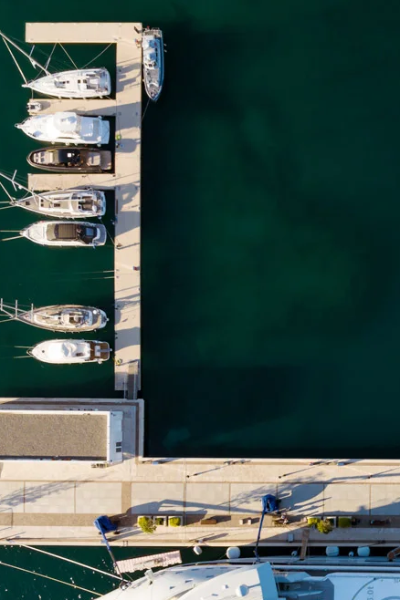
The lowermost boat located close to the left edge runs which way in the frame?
from left to right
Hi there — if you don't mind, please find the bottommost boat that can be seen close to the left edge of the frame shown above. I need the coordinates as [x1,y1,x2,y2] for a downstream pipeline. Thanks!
[17,338,113,366]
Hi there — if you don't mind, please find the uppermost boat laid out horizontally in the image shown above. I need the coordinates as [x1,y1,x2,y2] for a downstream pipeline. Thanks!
[0,32,114,99]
